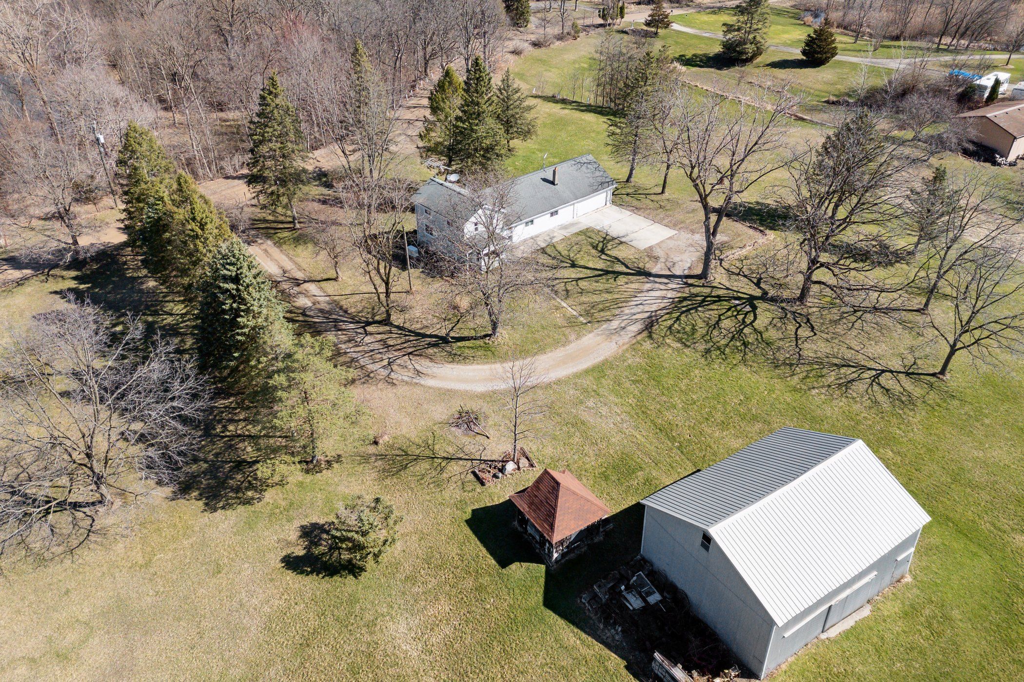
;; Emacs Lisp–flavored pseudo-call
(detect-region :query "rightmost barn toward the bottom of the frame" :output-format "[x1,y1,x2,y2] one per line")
[638,423,933,679]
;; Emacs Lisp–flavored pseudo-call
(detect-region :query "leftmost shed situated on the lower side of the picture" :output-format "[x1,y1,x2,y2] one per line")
[509,466,617,564]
